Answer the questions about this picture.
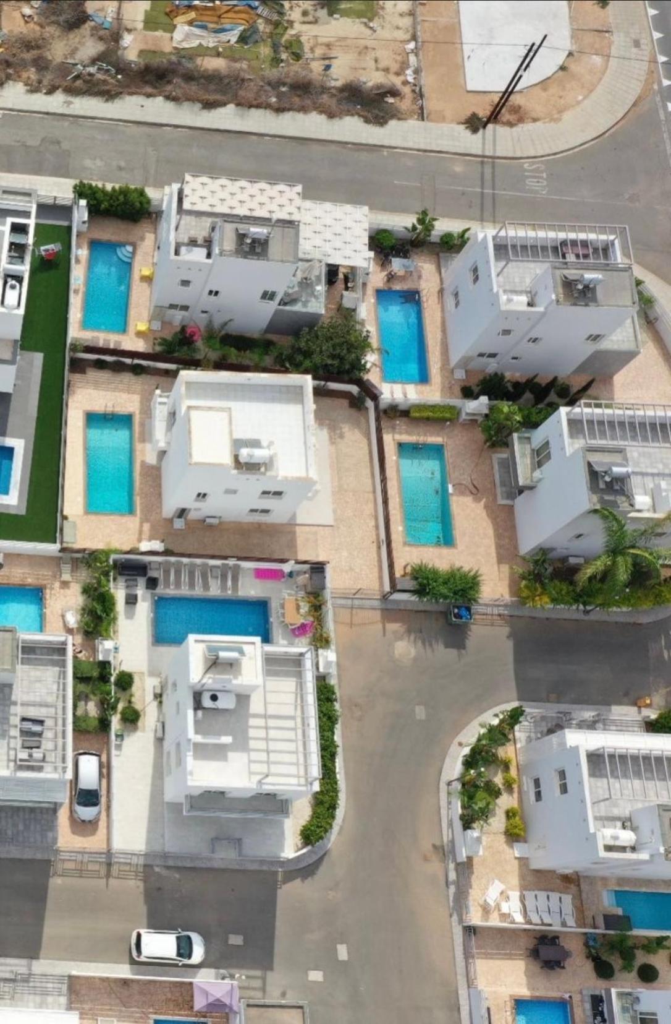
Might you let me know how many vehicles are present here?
2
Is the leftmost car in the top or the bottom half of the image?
bottom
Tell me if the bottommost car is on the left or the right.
left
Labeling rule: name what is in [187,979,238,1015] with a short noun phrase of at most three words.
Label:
gazebo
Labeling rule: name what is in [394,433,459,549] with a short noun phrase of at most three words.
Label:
swimming pool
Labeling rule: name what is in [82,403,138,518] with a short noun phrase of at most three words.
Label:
swimming pool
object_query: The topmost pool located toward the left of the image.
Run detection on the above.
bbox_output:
[79,236,137,336]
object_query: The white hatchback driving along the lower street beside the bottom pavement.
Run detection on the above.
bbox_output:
[131,928,205,967]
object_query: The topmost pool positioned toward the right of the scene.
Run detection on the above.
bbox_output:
[373,285,434,385]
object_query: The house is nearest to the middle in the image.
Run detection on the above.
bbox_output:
[149,371,317,524]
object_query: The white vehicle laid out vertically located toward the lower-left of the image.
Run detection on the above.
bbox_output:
[70,750,105,823]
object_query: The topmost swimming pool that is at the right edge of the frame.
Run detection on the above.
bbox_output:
[608,884,671,935]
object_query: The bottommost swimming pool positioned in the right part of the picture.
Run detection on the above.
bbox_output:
[511,994,581,1024]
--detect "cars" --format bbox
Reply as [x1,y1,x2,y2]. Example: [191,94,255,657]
[131,928,205,967]
[70,750,105,823]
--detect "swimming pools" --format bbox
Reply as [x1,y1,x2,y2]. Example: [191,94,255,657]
[79,236,137,336]
[150,591,275,648]
[511,994,581,1024]
[373,285,434,385]
[82,403,138,518]
[394,433,459,549]
[0,435,25,501]
[0,582,47,634]
[150,1014,215,1024]
[608,884,671,935]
